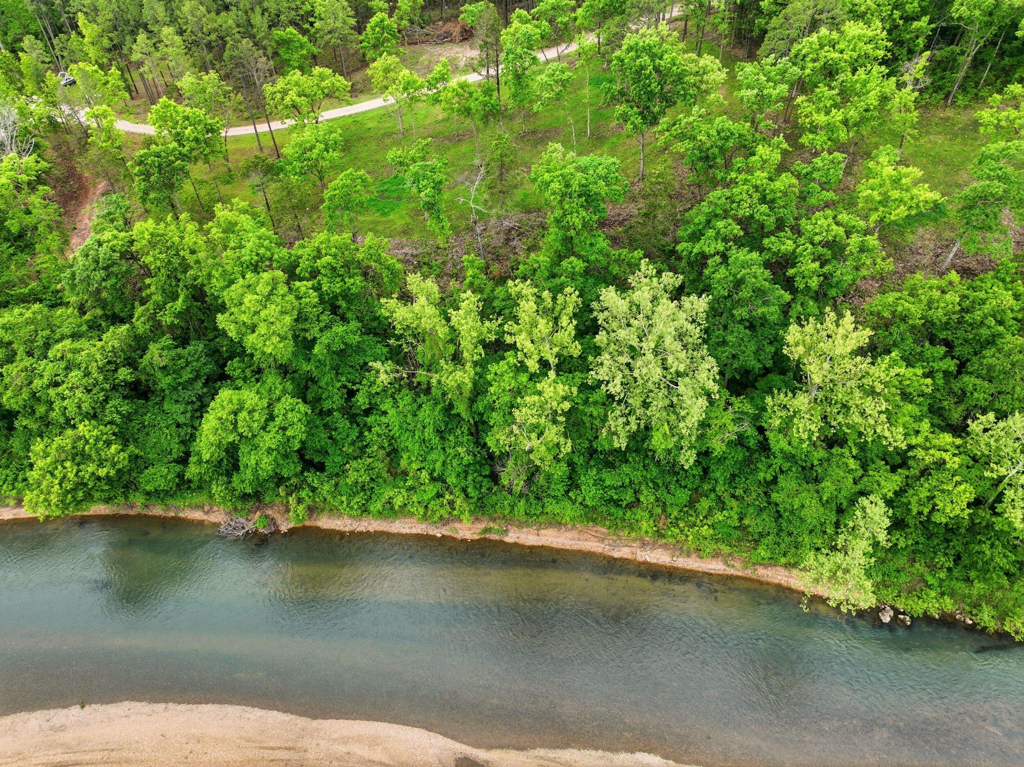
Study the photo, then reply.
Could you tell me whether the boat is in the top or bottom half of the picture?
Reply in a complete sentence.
The top half of the photo is where the boat is.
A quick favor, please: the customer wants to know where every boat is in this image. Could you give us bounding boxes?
[50,68,82,89]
